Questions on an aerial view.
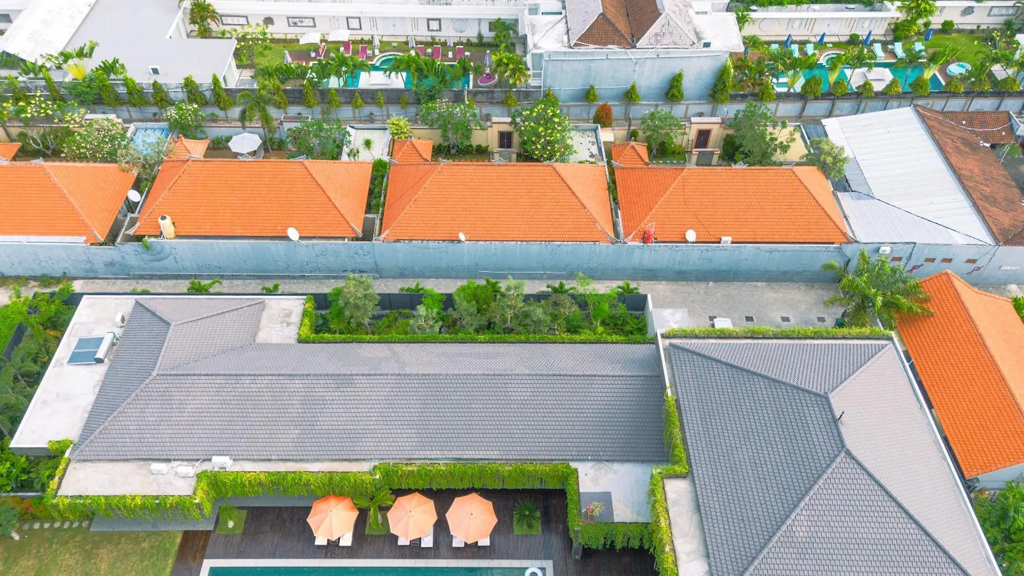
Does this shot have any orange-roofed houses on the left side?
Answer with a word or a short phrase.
Yes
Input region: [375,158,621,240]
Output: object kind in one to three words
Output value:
house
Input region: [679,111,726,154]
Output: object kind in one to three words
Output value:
building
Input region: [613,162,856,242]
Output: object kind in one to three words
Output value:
house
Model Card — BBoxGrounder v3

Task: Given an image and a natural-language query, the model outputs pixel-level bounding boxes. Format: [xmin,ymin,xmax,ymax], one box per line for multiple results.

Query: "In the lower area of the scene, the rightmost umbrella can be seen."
[445,492,498,542]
